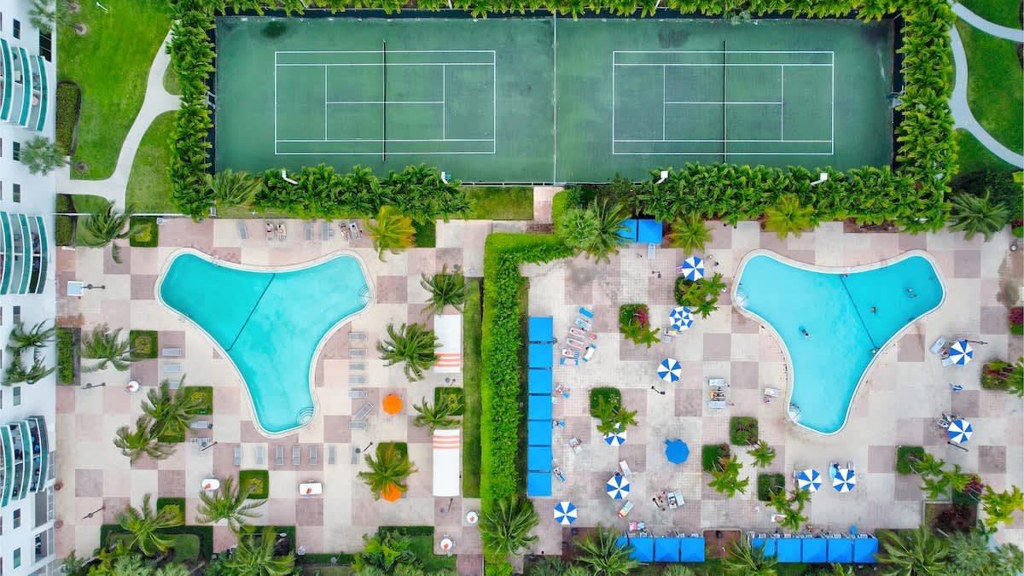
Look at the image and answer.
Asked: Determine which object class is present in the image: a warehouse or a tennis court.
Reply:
tennis court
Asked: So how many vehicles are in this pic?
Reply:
0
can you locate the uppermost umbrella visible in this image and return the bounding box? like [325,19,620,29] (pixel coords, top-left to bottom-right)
[680,256,704,280]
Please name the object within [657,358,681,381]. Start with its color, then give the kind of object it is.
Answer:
white umbrella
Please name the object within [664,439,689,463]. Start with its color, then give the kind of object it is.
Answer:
blue umbrella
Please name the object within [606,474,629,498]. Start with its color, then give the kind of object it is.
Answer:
white umbrella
